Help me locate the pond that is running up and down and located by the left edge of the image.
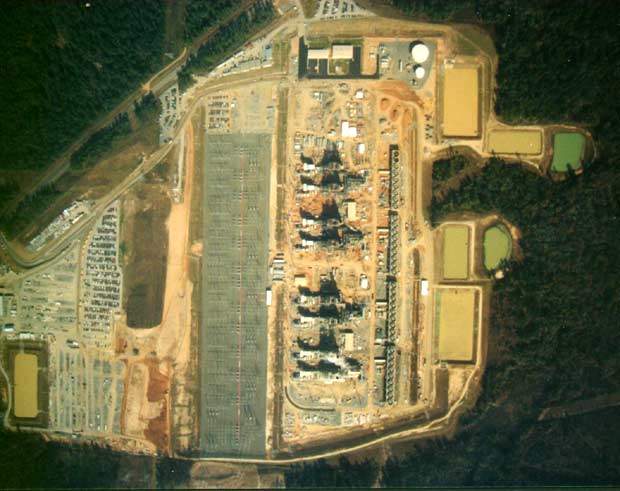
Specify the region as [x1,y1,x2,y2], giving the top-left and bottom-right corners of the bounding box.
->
[7,346,45,425]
